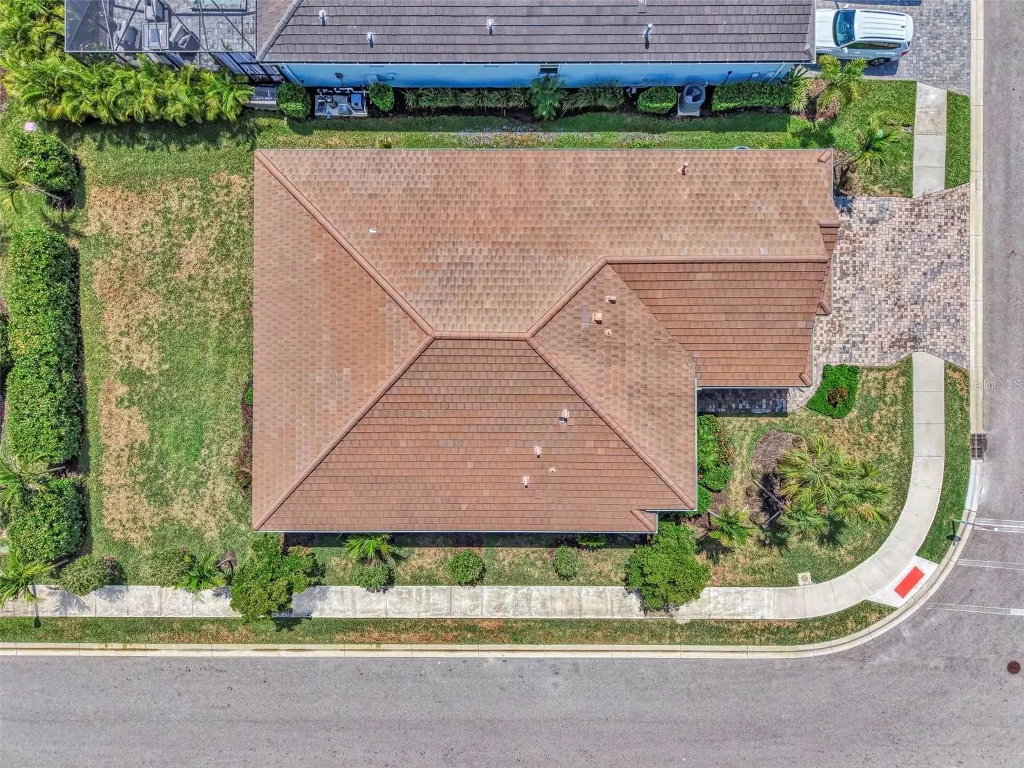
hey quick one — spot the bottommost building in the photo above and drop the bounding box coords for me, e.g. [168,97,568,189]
[251,146,844,534]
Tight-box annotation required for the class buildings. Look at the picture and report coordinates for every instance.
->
[251,146,844,534]
[254,0,820,88]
